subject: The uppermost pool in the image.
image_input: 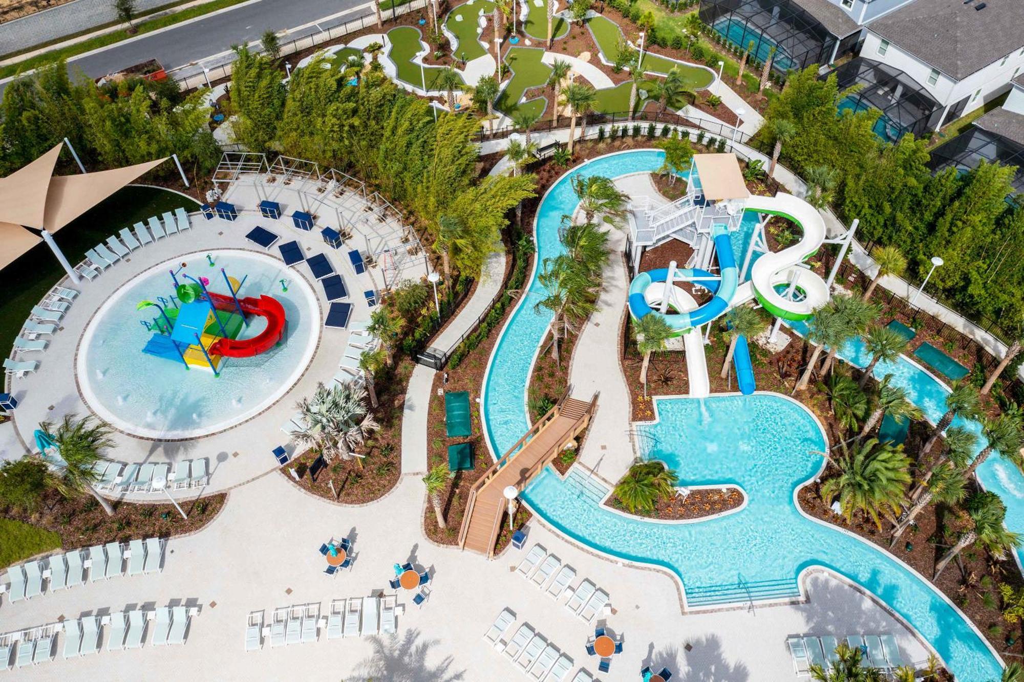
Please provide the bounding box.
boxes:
[714,17,797,70]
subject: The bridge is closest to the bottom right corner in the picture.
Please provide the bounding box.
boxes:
[458,387,594,557]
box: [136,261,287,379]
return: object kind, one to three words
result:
playground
